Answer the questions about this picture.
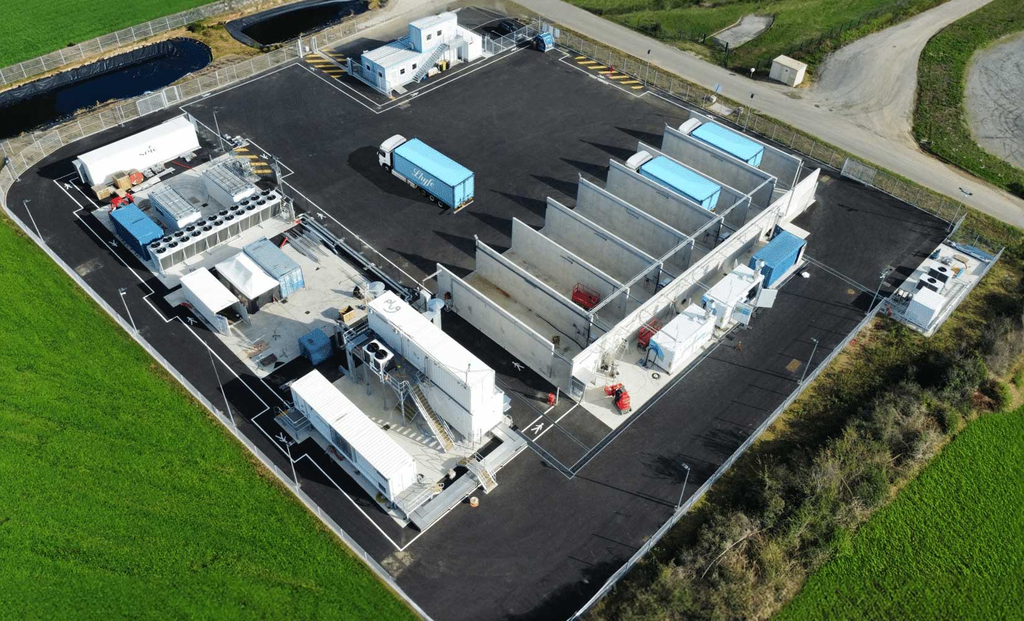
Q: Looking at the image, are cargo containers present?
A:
Yes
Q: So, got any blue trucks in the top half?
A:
Yes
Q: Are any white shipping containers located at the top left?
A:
Yes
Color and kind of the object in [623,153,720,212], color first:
blue truck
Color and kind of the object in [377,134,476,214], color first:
blue truck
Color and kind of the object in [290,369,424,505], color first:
white shipping container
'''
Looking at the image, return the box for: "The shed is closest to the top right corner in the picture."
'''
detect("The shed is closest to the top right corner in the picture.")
[772,53,813,86]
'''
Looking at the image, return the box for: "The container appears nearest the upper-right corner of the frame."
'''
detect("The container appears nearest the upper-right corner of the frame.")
[749,230,813,287]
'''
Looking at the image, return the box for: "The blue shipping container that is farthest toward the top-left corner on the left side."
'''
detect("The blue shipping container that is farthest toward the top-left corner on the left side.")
[111,205,166,264]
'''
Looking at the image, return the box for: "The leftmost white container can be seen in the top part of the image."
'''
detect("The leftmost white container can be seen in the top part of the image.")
[67,115,201,184]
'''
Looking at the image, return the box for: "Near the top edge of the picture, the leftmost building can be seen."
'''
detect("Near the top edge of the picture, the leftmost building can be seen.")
[360,10,460,93]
